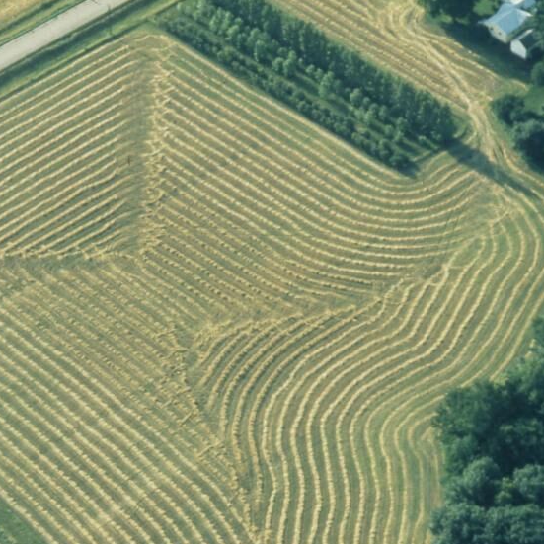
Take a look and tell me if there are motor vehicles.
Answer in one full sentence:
No, there isn't any motor vehicle down there.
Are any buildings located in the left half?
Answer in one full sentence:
No, in the left half there is no building.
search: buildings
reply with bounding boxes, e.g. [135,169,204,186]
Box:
[510,31,543,59]
[481,5,532,42]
